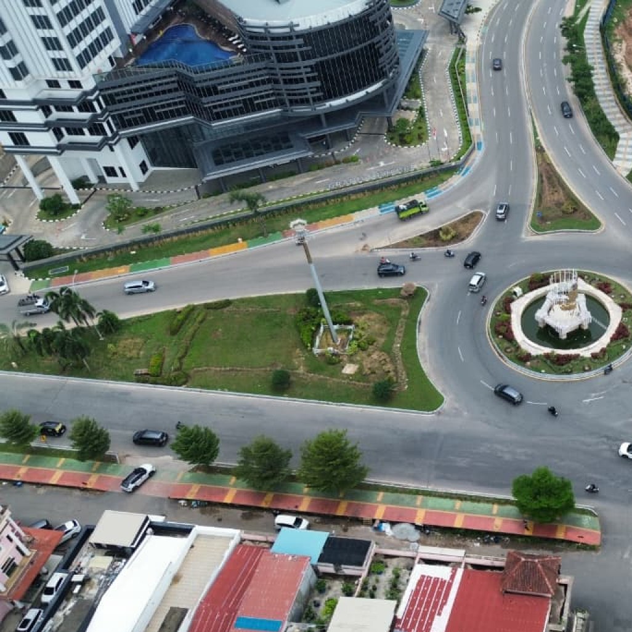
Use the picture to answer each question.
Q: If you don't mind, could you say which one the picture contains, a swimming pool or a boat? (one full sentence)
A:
Looking from above, you can make out a swimming pool.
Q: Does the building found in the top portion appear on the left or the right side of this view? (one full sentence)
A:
You can find the building found in the top portion on the left side of the picture.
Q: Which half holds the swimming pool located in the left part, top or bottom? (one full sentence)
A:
The swimming pool located in the left part is in the top half of the image.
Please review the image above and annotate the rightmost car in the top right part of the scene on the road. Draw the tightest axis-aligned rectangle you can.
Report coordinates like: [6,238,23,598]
[560,101,573,118]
